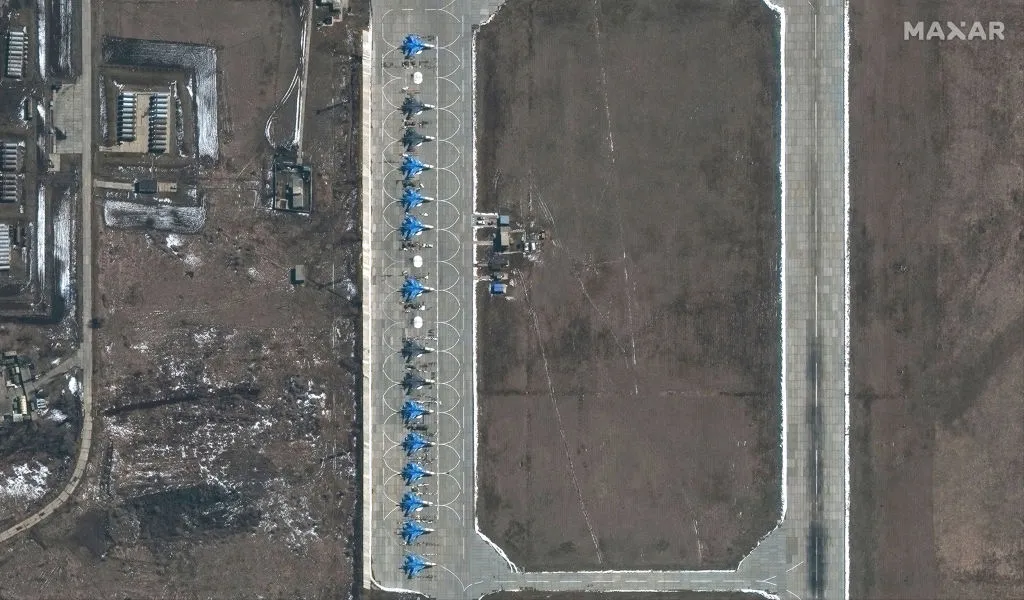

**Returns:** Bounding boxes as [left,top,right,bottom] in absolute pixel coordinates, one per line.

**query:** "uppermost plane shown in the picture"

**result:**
[397,34,434,58]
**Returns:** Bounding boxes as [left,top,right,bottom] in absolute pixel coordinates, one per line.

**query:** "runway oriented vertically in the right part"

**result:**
[784,0,846,600]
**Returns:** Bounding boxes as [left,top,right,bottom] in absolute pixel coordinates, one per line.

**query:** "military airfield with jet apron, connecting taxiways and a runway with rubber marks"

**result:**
[371,0,846,600]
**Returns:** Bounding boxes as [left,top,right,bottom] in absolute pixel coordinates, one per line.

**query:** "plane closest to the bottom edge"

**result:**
[403,553,436,577]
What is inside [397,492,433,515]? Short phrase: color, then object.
blue airplane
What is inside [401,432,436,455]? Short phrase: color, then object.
blue airplane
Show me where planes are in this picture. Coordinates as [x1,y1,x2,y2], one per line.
[399,215,433,239]
[403,553,436,577]
[399,94,434,118]
[399,277,434,301]
[397,187,433,211]
[398,338,435,362]
[398,519,435,543]
[397,34,434,58]
[397,492,433,515]
[399,370,435,394]
[400,462,435,485]
[401,432,436,455]
[398,126,435,150]
[400,399,433,423]
[399,155,434,178]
